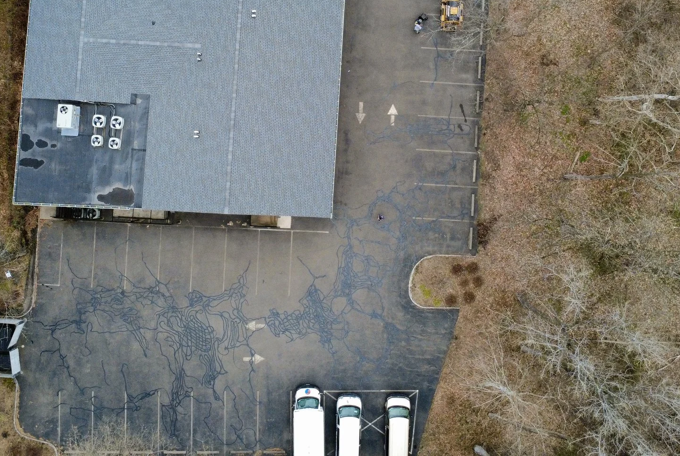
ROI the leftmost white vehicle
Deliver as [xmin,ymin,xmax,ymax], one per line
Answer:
[291,386,327,456]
